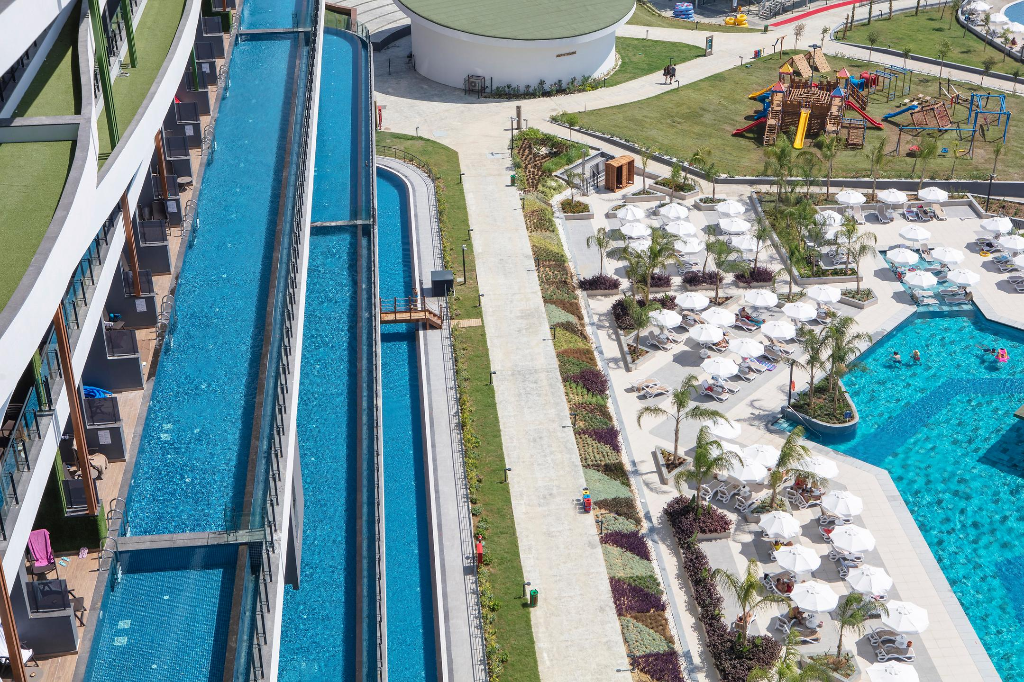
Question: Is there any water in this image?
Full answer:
Yes, water can be seen from above here.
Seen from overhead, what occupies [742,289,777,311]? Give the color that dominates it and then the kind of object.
white umbrella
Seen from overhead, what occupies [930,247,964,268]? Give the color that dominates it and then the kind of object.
white umbrella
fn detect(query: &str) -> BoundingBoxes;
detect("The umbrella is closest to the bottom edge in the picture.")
[864,657,921,682]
